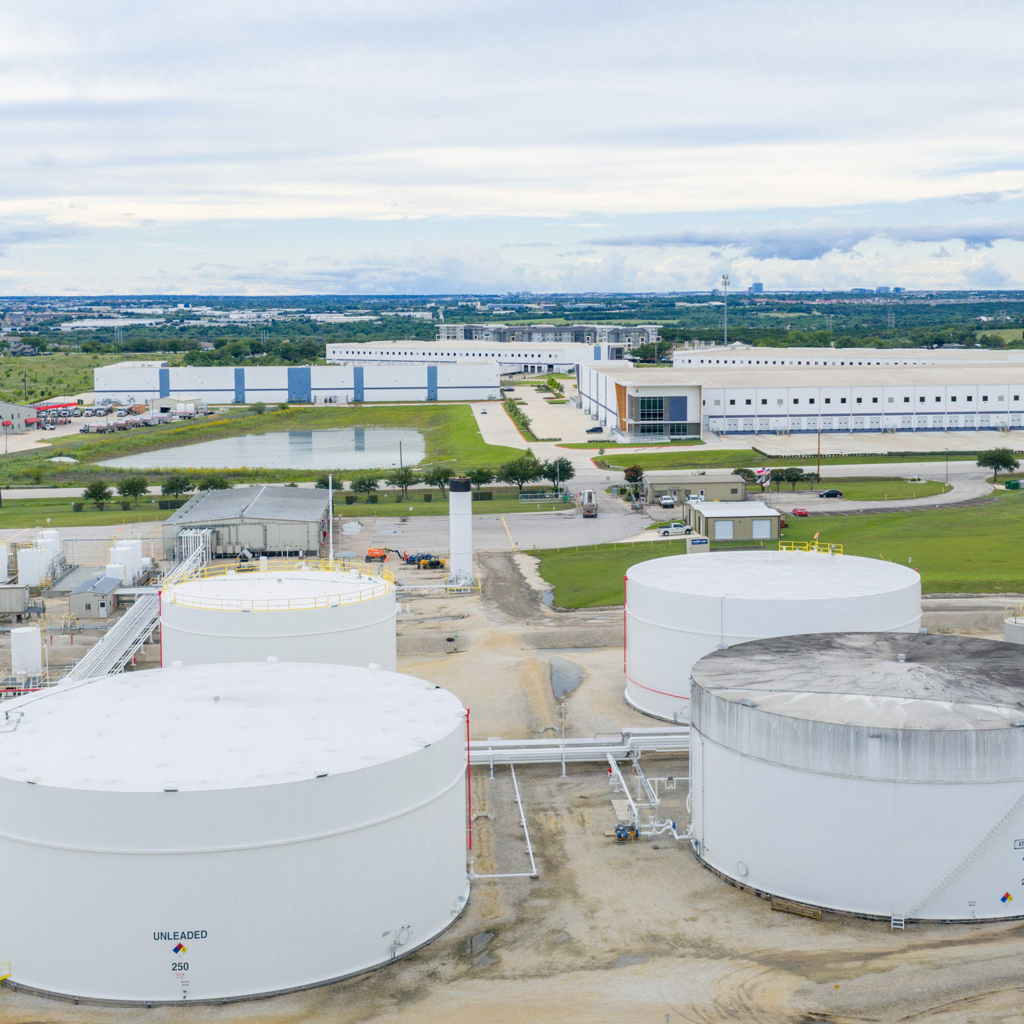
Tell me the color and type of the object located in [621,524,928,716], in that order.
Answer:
white storage tank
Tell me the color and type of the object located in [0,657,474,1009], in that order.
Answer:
white storage tank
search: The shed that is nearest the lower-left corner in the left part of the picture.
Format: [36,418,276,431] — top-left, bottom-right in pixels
[67,571,124,618]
